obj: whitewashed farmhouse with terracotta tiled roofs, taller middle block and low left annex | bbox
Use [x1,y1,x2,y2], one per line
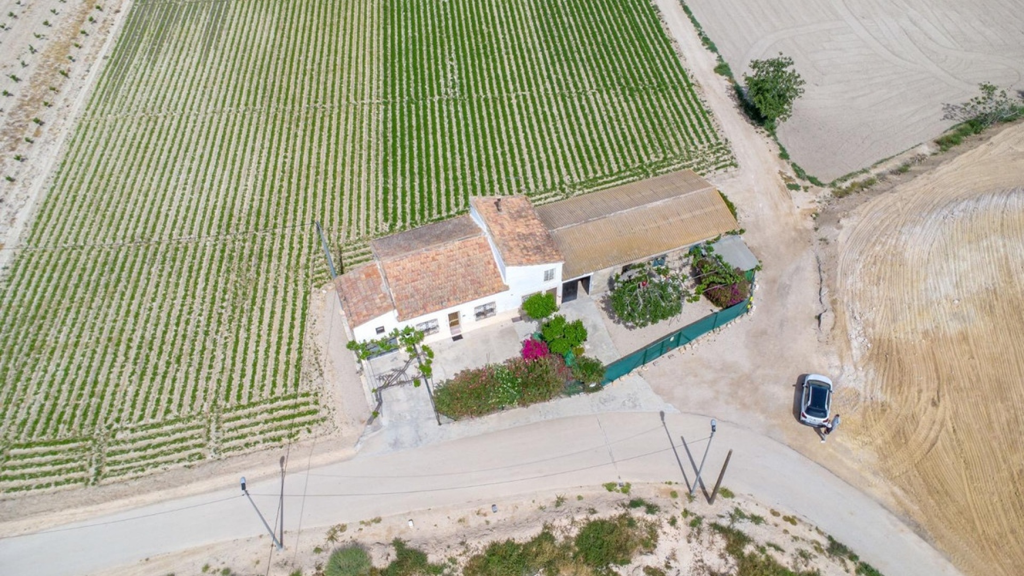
[335,193,564,349]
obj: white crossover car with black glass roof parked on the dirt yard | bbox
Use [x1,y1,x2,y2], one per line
[797,370,836,429]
